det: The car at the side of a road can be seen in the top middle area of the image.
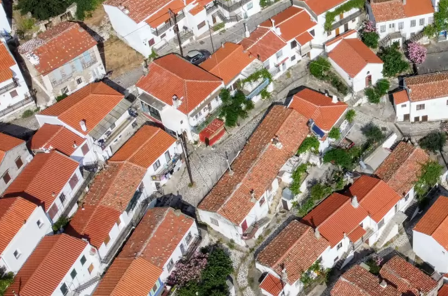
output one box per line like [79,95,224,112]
[183,47,211,64]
